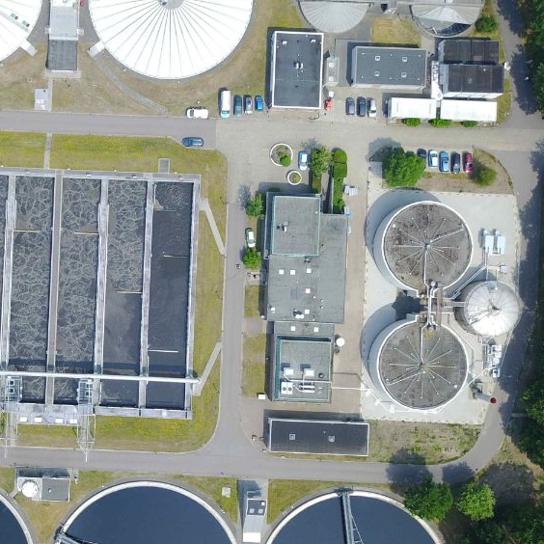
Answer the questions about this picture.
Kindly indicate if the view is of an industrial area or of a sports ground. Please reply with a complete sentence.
It's an industrial area.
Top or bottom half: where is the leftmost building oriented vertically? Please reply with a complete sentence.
You can find the leftmost building oriented vertically in the top half.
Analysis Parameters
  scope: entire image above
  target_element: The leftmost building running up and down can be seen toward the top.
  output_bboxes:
[49,0,79,72]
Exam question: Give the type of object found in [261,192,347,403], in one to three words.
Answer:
building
